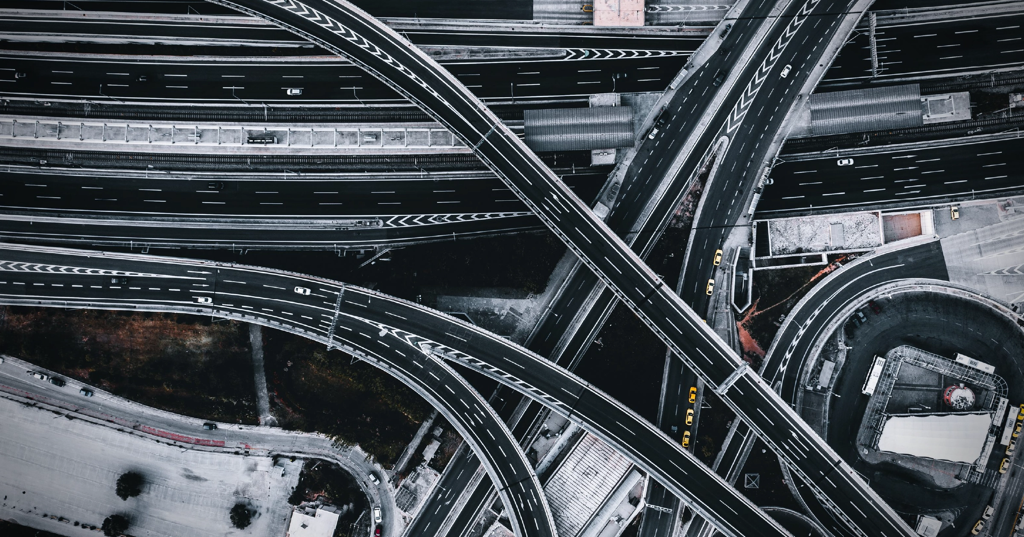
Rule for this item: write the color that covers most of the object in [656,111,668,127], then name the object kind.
black vehicle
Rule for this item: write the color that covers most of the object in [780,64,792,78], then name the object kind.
white vehicle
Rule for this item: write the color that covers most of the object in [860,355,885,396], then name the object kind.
white bus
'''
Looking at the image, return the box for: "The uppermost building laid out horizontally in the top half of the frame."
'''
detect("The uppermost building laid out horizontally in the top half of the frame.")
[587,92,620,107]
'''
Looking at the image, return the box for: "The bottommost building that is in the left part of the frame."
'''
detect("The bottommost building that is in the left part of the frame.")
[288,502,343,537]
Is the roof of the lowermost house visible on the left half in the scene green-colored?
No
